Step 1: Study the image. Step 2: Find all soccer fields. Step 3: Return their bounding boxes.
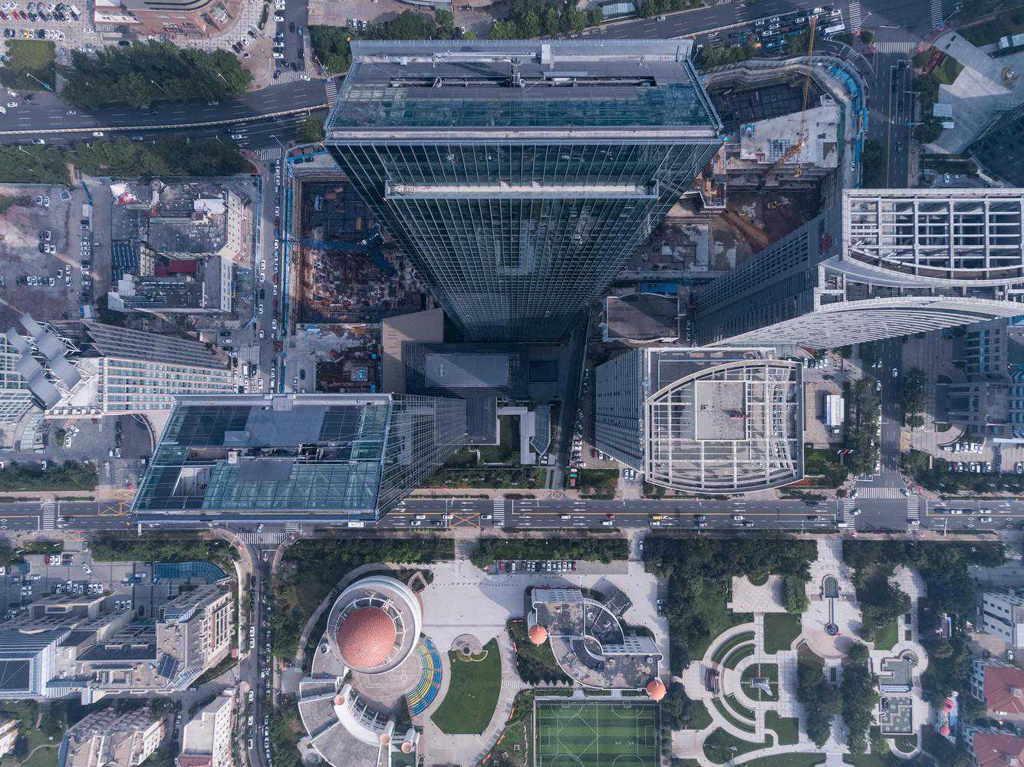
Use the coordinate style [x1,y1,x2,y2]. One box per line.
[533,700,661,767]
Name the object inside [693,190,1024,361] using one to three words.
building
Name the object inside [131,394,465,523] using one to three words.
building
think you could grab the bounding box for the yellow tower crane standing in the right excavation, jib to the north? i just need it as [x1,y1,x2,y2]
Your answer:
[761,16,817,173]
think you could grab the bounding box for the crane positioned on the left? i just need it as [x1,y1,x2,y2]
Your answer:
[277,230,400,279]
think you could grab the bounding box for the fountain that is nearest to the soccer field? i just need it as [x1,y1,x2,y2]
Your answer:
[452,631,488,662]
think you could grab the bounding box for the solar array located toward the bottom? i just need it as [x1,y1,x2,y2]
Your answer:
[159,651,185,680]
